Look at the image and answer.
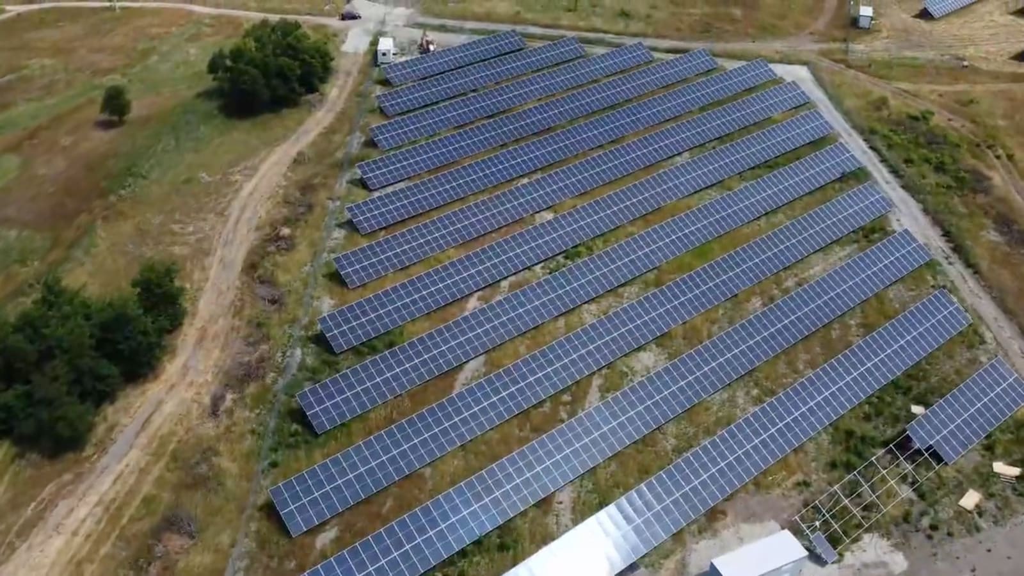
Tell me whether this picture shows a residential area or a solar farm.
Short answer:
solar farm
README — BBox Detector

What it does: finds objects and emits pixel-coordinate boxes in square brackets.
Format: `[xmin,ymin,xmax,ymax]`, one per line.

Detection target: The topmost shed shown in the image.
[858,4,874,27]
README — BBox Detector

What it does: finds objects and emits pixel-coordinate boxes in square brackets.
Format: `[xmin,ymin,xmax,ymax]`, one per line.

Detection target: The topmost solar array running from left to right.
[921,0,981,21]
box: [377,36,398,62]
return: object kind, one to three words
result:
building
